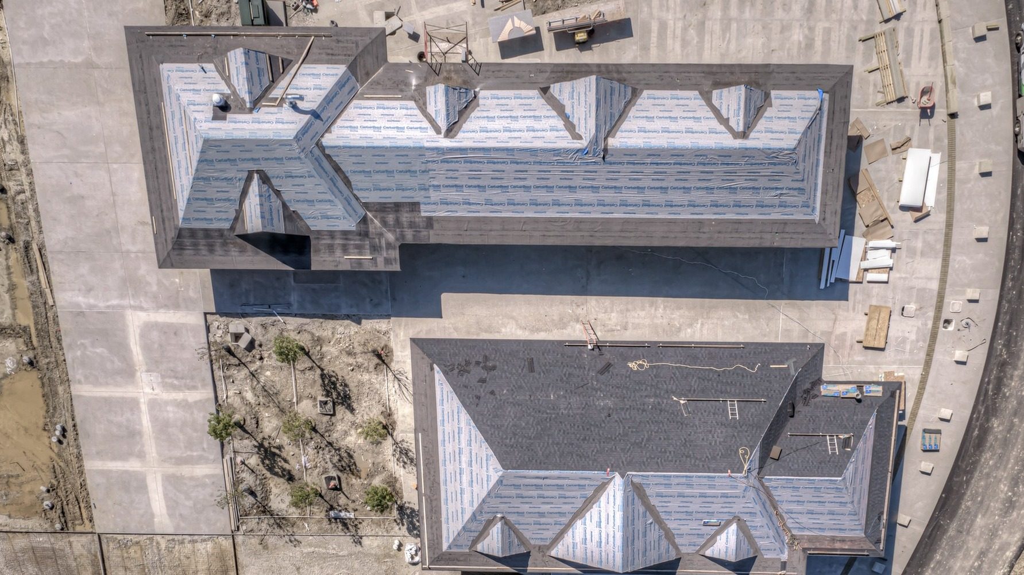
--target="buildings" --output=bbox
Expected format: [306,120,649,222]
[411,338,901,575]
[125,26,853,270]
